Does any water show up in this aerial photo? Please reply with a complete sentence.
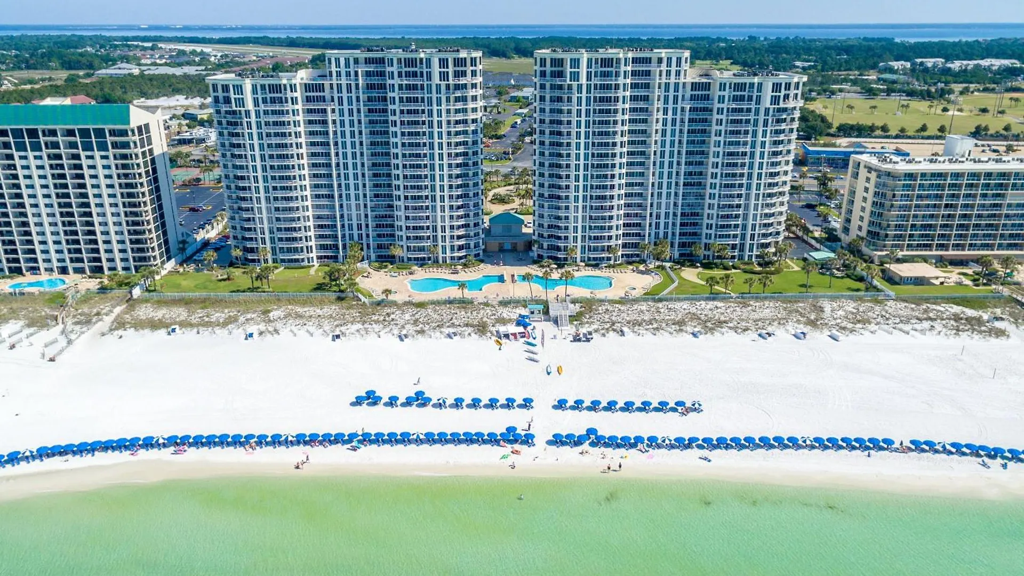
Yes, there is water in the image.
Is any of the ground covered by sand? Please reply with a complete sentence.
Yes, sand shows up in the scene.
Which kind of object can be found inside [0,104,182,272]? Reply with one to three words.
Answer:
building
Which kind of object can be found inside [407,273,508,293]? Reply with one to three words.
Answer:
swimming pool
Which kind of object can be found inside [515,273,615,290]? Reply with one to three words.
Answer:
swimming pool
